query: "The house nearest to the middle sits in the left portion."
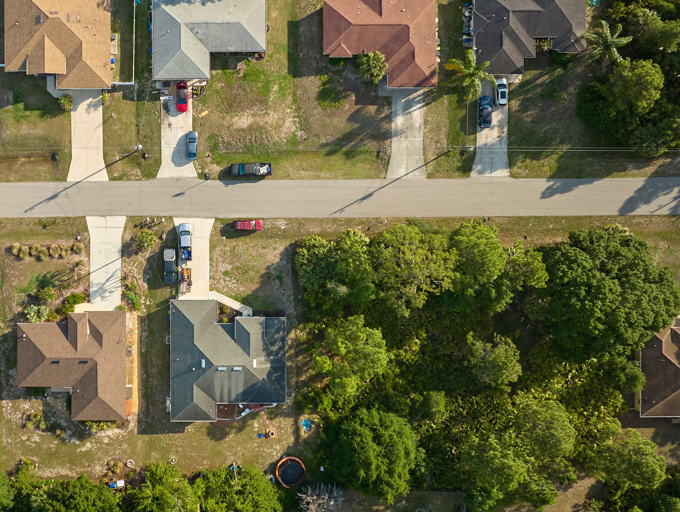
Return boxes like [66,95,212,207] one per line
[170,300,287,421]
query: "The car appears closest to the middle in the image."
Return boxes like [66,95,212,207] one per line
[233,219,262,233]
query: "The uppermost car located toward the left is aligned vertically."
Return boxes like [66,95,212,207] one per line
[176,82,189,112]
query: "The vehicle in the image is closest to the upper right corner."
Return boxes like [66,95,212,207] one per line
[494,79,510,107]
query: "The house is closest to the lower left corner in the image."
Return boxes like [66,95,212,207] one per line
[17,310,127,421]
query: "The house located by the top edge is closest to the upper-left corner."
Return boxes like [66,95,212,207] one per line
[4,0,111,89]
